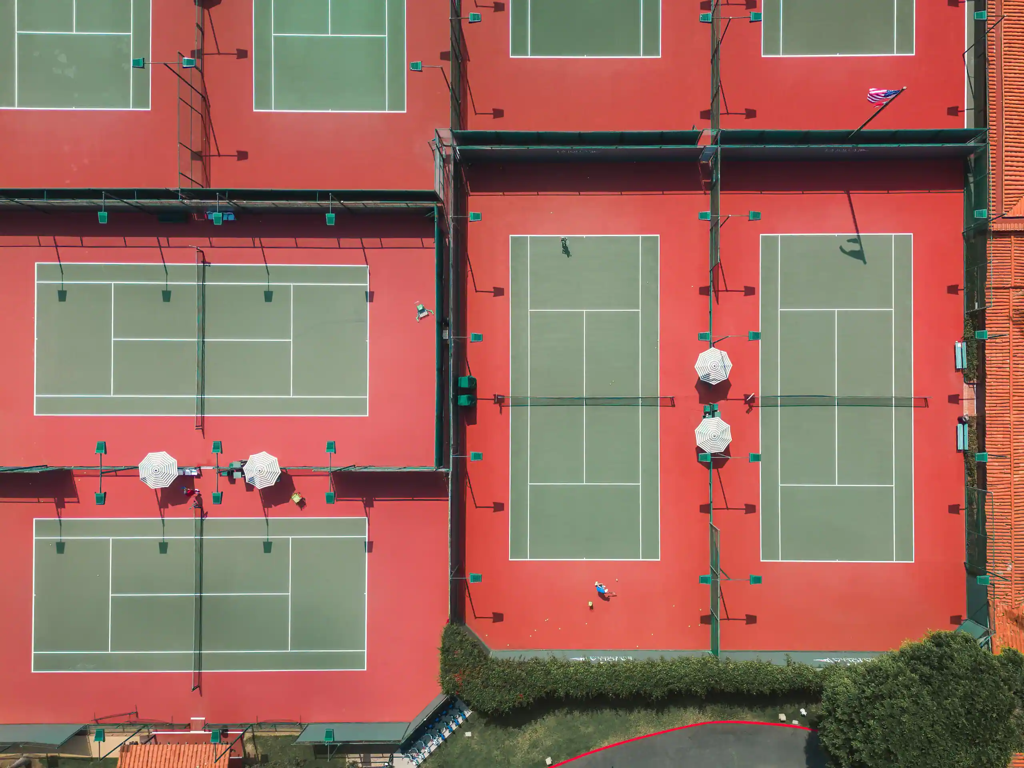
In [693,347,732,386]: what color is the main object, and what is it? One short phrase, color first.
white umbrella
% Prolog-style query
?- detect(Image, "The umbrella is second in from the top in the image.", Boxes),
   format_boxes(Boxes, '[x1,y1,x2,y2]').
[693,416,732,454]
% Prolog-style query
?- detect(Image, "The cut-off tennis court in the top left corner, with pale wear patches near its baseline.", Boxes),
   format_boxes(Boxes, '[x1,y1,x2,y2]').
[0,0,202,191]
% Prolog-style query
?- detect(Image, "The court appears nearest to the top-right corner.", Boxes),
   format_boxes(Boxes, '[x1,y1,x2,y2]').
[721,0,966,147]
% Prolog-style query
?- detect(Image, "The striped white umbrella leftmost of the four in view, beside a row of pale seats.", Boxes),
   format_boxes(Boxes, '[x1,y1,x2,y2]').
[142,451,180,488]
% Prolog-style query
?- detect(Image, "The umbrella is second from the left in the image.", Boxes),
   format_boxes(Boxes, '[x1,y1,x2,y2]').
[246,450,285,488]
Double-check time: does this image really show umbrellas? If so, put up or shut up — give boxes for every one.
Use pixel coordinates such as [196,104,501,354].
[693,347,732,386]
[246,450,285,488]
[693,416,732,454]
[142,451,180,488]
